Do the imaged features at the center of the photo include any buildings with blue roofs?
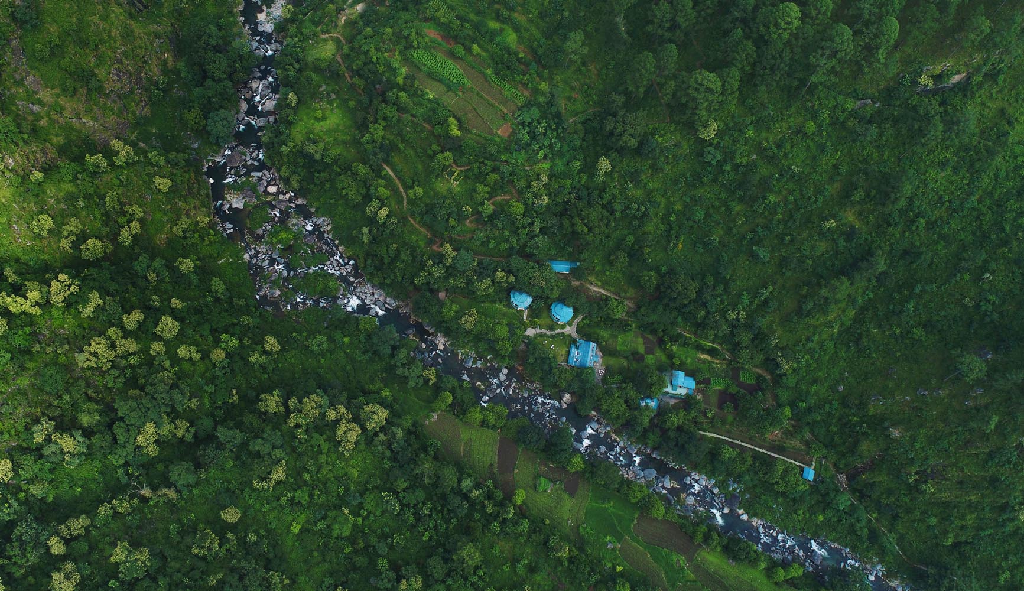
Yes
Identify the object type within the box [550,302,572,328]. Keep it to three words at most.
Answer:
shed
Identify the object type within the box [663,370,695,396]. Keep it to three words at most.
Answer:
house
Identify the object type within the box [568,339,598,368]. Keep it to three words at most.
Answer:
house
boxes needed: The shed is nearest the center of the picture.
[510,290,531,316]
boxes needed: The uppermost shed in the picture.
[548,261,580,274]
